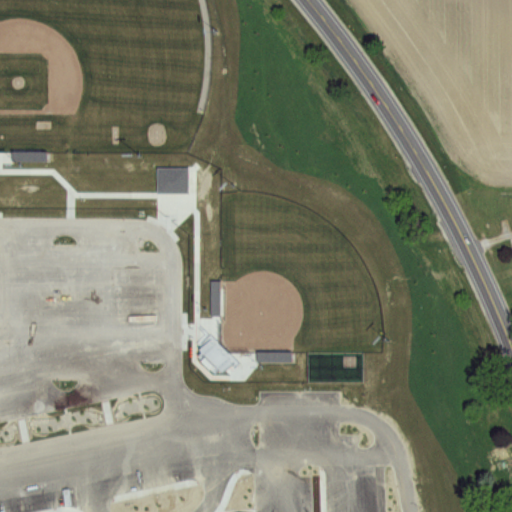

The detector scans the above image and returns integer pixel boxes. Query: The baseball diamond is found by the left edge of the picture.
[0,0,204,153]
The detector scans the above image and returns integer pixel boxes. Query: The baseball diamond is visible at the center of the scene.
[222,191,383,352]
